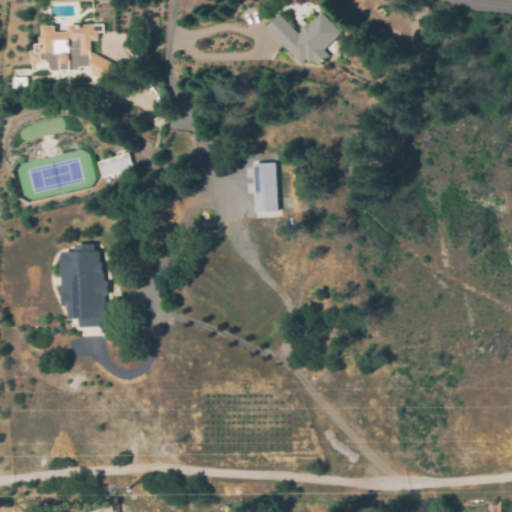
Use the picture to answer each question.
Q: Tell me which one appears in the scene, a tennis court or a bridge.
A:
tennis court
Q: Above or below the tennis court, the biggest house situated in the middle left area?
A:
below it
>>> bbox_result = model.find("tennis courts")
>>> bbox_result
[19,150,97,200]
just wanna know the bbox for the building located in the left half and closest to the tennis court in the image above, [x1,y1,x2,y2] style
[98,154,132,176]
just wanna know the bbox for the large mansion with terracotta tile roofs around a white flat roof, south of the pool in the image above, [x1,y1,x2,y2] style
[29,23,112,76]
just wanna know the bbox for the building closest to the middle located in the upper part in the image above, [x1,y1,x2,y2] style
[254,160,283,216]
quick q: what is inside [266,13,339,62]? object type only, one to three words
house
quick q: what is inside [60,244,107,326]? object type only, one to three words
house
